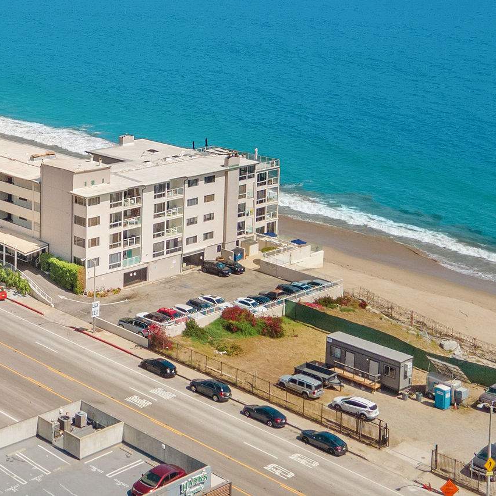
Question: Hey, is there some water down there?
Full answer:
Yes, water shows up in the scene.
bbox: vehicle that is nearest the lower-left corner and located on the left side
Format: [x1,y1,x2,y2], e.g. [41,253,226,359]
[128,462,189,496]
